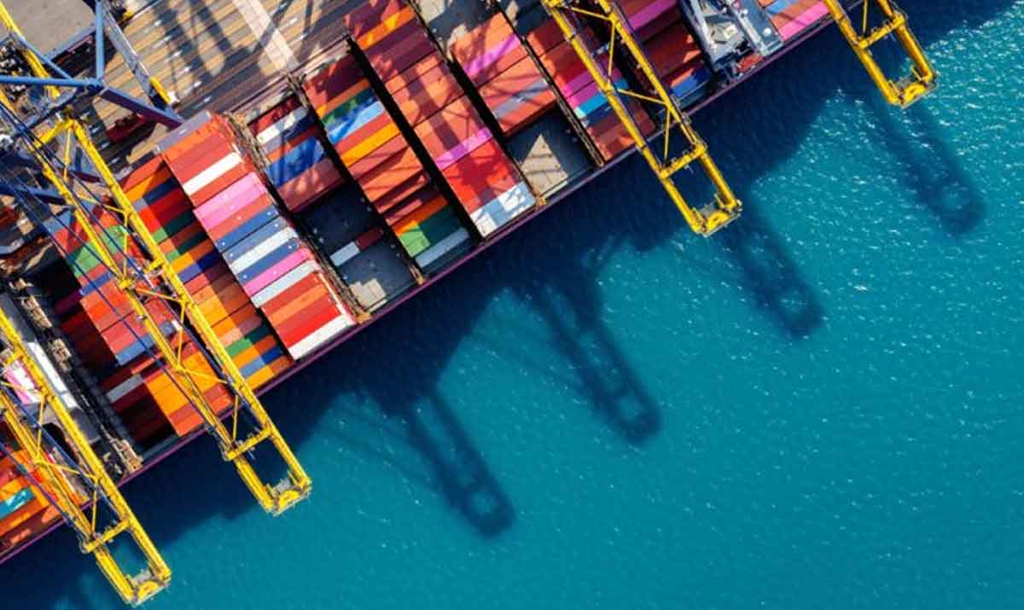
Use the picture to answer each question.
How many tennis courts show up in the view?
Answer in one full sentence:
The count of tennis courts is 0.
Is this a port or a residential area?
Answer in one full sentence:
What you see here is a port.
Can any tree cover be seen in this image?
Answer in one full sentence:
No, the scene doesn't show any tree cover.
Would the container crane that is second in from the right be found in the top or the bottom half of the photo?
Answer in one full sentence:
The container crane that is second in from the right is in the top half of the image.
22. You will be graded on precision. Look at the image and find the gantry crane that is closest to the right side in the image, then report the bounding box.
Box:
[805,0,935,114]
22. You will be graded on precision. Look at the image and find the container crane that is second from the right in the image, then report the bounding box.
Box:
[543,0,744,236]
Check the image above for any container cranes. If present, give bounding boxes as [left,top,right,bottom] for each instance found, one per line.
[0,0,312,519]
[543,0,744,236]
[0,111,179,608]
[805,0,935,114]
